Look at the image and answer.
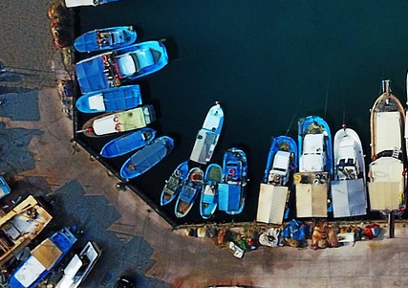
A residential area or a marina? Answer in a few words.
marina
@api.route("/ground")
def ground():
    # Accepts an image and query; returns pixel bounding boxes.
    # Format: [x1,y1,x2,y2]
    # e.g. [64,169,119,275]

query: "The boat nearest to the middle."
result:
[190,104,223,165]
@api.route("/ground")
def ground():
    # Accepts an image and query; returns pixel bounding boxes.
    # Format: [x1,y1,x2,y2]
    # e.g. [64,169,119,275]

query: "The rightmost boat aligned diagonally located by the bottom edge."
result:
[57,237,105,288]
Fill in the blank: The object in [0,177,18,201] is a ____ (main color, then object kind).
blue boat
